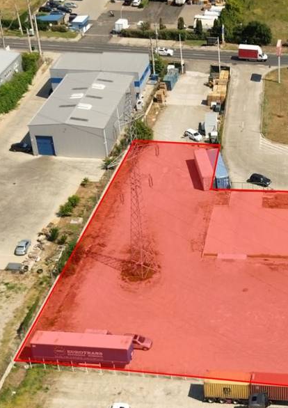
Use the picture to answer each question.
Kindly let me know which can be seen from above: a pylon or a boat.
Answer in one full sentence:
The image shows a pylon.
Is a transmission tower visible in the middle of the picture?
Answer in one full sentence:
Yes, you'll find a transmission tower in the middle of the picture.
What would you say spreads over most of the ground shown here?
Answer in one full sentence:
The largest share of the image is taken up by paved ground.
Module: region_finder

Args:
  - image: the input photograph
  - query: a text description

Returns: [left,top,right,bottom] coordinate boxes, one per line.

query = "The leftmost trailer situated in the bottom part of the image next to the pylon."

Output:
[27,331,135,364]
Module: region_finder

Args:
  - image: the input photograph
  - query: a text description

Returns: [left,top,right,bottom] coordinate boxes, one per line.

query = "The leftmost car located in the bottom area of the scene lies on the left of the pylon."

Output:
[15,236,29,254]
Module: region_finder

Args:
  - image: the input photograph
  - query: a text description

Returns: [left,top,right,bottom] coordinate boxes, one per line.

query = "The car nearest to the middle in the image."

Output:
[183,126,203,140]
